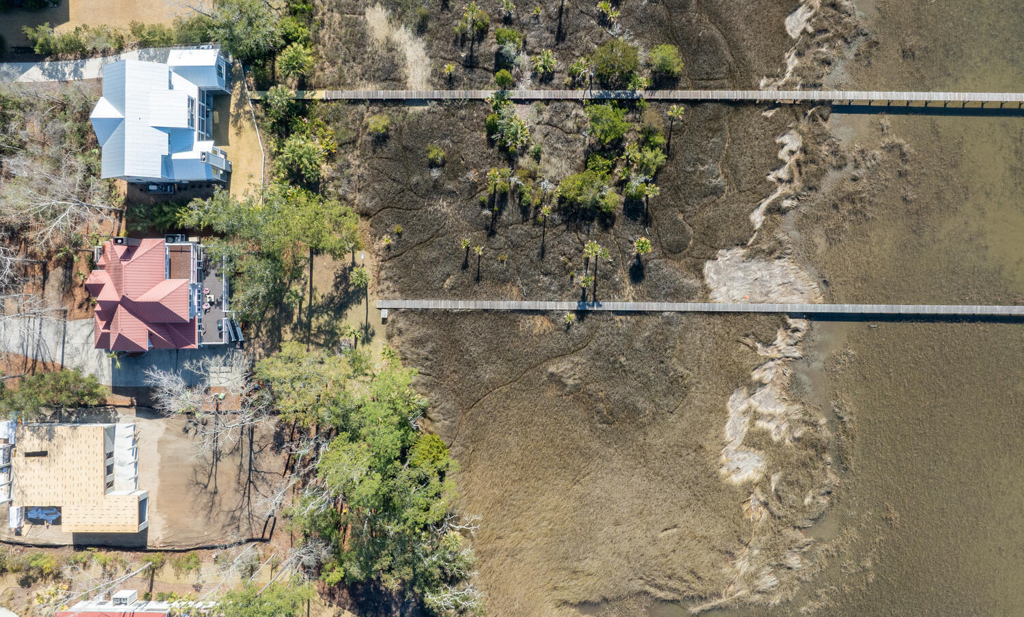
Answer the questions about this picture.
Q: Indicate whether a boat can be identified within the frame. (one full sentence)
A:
No, the frame has no boat in it.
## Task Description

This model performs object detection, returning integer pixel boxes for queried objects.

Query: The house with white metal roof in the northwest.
[89,49,243,184]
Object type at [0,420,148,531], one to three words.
house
